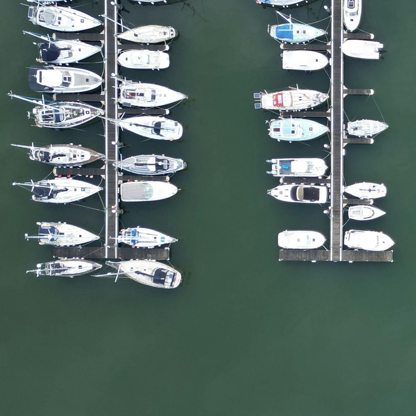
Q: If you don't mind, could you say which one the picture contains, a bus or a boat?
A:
boat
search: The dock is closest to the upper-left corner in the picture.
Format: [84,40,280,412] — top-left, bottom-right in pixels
[50,27,105,47]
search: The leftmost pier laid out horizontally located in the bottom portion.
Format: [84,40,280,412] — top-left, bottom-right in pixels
[54,246,105,259]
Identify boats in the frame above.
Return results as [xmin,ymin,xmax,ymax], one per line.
[342,183,386,200]
[267,10,328,46]
[254,86,328,112]
[344,0,361,31]
[280,51,329,73]
[102,154,188,174]
[22,257,103,275]
[8,92,104,127]
[262,116,330,142]
[343,120,389,138]
[113,50,172,72]
[91,257,183,287]
[26,0,103,32]
[278,231,325,250]
[91,113,185,141]
[98,12,179,45]
[266,183,330,202]
[339,40,386,60]
[343,228,395,250]
[20,30,104,63]
[108,75,187,107]
[344,205,387,220]
[25,66,104,94]
[23,225,101,248]
[267,159,328,178]
[117,181,180,202]
[11,179,103,205]
[107,228,178,249]
[8,142,105,168]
